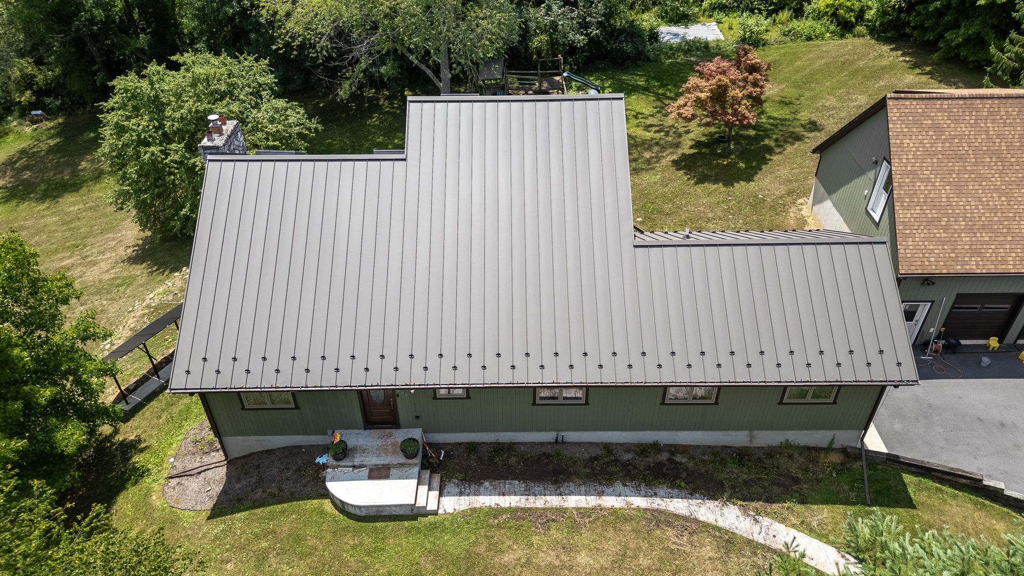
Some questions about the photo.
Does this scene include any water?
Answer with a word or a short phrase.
No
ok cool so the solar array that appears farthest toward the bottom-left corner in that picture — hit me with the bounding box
[96,302,182,420]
